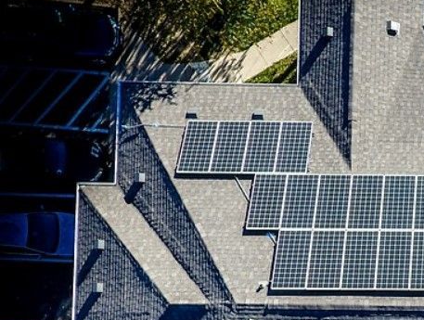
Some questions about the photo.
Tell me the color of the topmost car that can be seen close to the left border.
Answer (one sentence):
From above, the topmost car that can be seen close to the left border appears black.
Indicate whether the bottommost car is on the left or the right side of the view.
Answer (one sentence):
The bottommost car appears in the left half of the scene.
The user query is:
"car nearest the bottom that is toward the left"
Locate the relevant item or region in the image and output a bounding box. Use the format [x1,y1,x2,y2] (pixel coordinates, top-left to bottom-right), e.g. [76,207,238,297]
[0,204,76,260]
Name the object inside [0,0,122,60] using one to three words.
car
